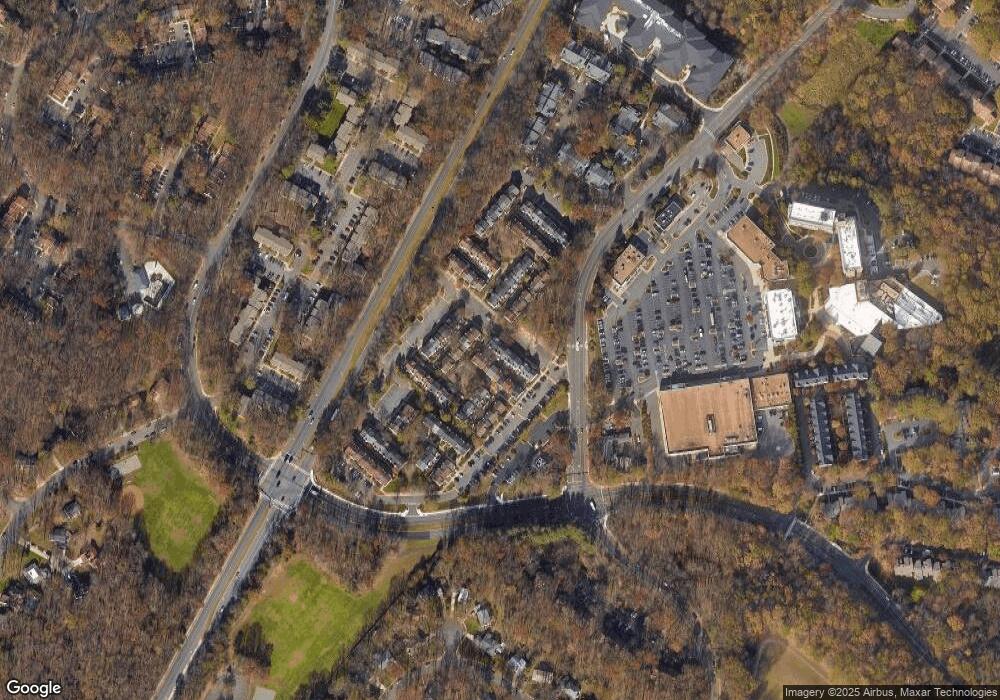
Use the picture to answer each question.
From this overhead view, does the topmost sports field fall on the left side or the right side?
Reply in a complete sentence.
The topmost sports field appears in the left half of the scene.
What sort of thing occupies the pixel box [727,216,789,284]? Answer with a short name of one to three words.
building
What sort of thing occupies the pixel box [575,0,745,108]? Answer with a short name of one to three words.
house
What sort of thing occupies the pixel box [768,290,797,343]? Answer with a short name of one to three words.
building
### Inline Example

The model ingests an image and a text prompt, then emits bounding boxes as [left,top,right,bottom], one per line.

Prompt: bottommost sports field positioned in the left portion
[236,540,436,700]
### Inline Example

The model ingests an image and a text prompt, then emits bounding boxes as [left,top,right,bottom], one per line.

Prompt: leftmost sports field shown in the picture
[120,439,222,572]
